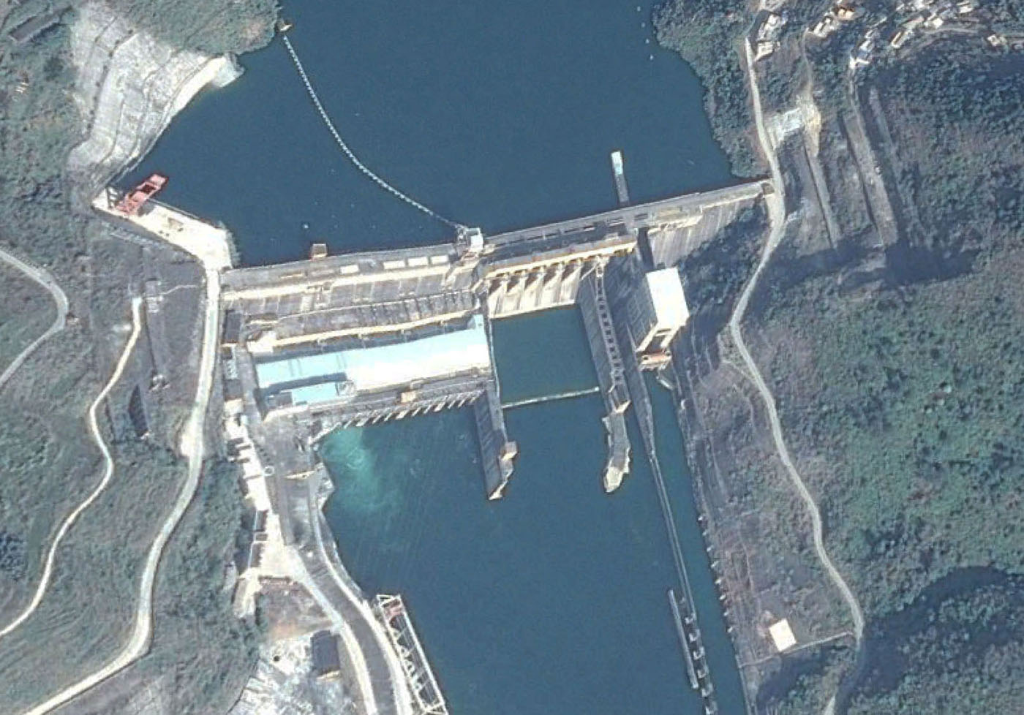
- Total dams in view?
1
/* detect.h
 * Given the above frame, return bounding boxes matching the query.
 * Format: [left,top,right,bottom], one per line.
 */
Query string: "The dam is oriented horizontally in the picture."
[221,180,774,339]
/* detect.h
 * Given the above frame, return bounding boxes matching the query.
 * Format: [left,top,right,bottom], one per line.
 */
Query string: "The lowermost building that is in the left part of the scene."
[309,630,341,682]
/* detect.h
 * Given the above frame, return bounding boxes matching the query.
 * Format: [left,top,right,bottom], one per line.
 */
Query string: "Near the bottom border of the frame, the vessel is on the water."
[668,590,698,688]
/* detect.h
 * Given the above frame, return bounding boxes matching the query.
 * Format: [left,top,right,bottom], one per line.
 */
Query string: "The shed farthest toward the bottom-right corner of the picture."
[767,620,796,654]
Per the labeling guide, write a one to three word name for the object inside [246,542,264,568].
building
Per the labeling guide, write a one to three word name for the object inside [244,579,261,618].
building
